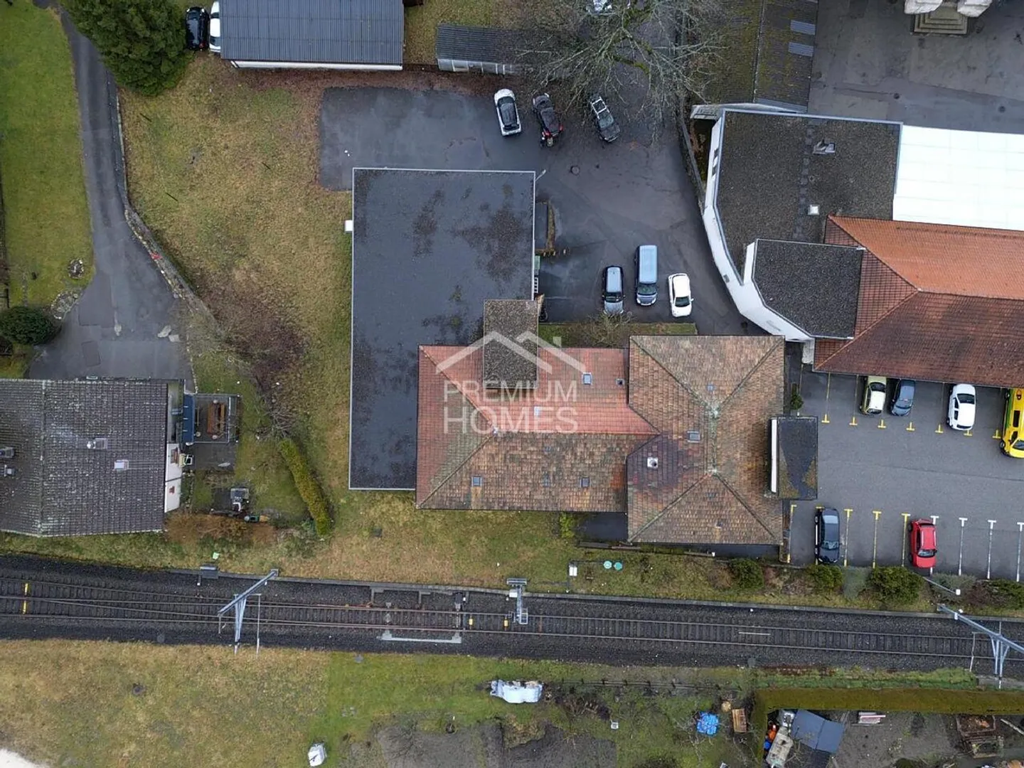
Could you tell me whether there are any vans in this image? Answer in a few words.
Yes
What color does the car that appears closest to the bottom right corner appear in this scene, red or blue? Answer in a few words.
red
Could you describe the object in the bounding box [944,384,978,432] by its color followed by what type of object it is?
white car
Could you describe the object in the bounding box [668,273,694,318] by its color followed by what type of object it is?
white car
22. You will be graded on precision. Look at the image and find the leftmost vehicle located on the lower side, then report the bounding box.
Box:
[813,506,844,562]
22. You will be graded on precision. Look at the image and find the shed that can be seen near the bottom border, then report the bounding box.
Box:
[788,708,844,752]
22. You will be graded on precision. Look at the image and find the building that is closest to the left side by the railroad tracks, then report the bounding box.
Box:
[0,378,185,537]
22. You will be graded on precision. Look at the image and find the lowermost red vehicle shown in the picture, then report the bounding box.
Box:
[907,518,939,567]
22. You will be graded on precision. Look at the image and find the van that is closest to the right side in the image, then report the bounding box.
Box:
[996,388,1024,457]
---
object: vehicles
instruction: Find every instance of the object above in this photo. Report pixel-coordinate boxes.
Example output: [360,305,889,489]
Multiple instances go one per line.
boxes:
[907,518,939,567]
[632,244,660,306]
[668,273,694,318]
[184,7,209,53]
[204,3,219,55]
[813,506,844,562]
[547,138,552,154]
[533,93,561,141]
[602,265,626,314]
[944,384,978,432]
[859,376,889,416]
[996,388,1024,457]
[888,379,918,418]
[494,89,521,138]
